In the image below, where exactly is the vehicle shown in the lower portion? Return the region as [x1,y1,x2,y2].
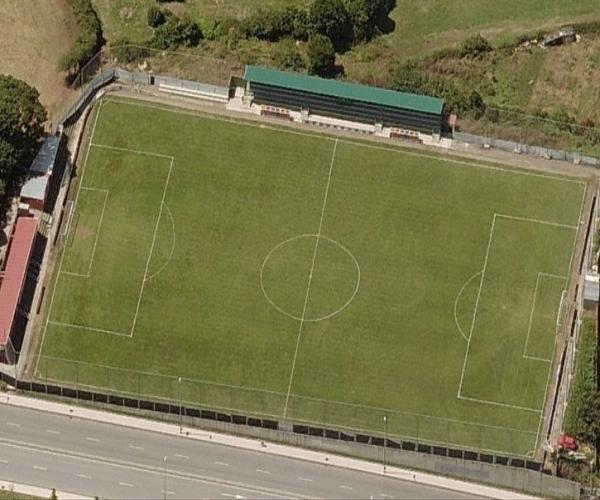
[558,435,577,448]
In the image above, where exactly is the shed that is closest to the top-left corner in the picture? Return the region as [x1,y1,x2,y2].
[29,137,61,185]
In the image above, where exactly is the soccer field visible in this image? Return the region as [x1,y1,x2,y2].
[29,94,589,460]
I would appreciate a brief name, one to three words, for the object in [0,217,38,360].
building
